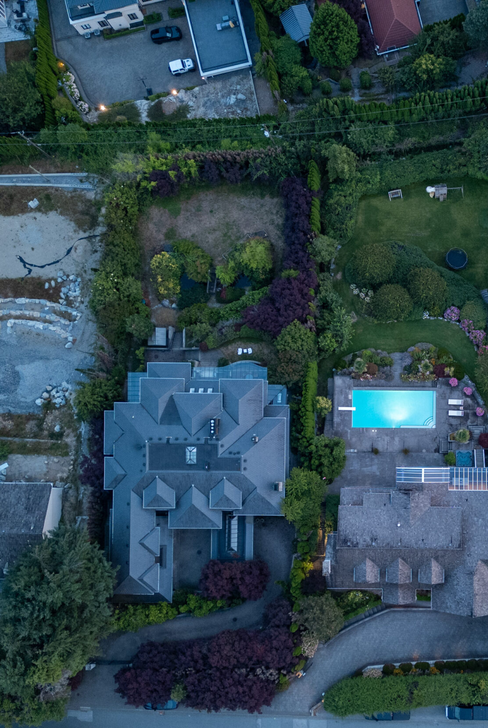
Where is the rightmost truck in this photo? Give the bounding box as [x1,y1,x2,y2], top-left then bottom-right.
[445,702,488,724]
